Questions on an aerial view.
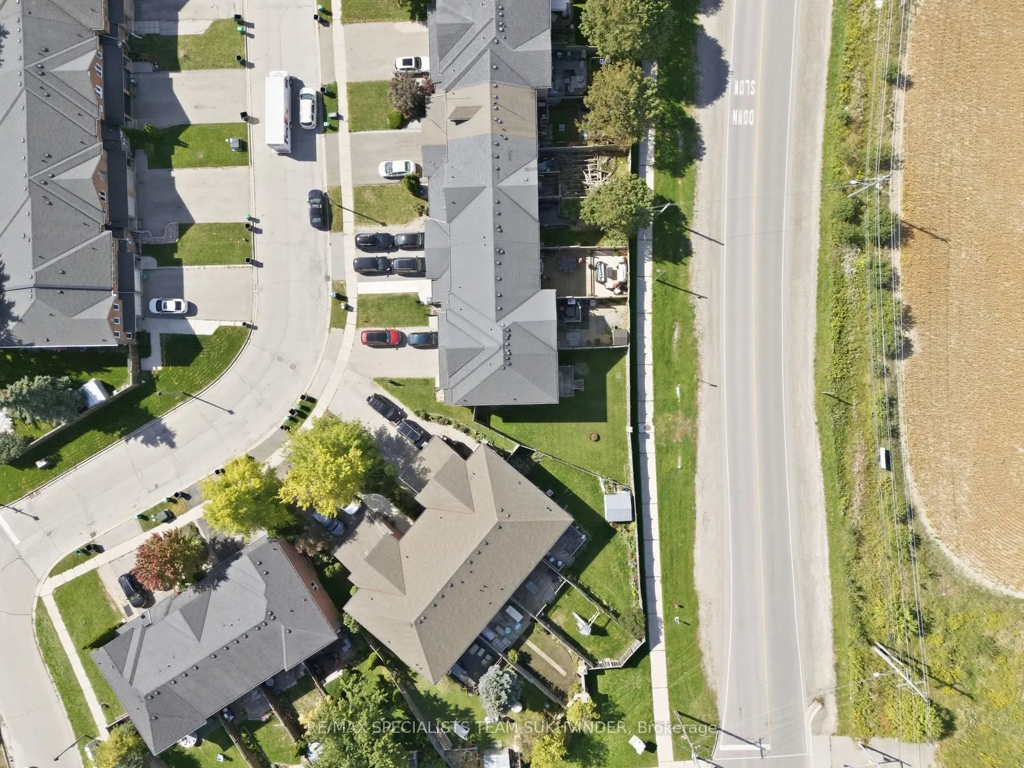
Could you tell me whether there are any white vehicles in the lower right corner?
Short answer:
No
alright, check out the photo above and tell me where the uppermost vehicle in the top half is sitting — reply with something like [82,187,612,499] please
[394,54,429,76]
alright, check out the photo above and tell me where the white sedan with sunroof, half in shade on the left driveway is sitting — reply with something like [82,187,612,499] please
[150,297,190,316]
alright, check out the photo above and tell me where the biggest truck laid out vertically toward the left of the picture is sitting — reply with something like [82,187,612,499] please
[265,71,291,156]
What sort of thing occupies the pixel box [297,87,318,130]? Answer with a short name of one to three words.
car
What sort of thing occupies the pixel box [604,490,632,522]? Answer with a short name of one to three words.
shed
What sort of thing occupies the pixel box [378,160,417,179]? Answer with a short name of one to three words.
car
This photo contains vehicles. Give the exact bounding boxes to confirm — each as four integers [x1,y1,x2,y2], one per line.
[119,570,149,608]
[353,255,392,275]
[306,190,326,229]
[394,231,425,250]
[406,330,438,349]
[297,87,318,130]
[392,256,426,275]
[361,328,402,347]
[309,506,347,538]
[366,391,406,424]
[396,418,433,448]
[265,71,291,156]
[150,297,190,316]
[378,160,417,179]
[355,231,394,251]
[394,54,429,76]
